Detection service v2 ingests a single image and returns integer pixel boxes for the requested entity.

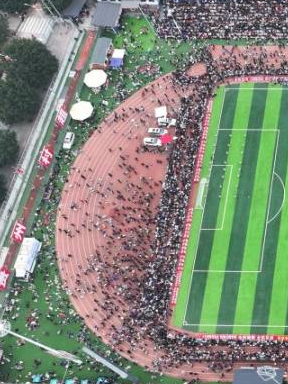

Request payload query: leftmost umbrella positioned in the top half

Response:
[71,101,93,120]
